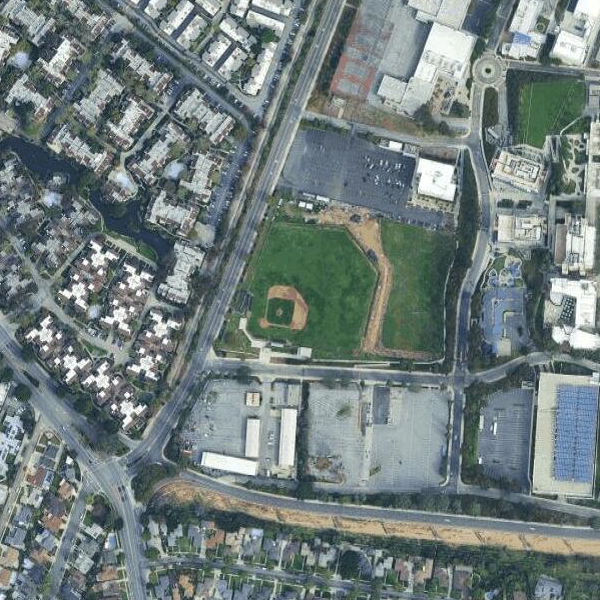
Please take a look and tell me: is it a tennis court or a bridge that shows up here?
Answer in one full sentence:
The image shows a tennis court.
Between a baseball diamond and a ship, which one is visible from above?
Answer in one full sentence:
Visible in the photo is a baseball diamond.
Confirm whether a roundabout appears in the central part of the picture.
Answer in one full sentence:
No, the scene shows no roundabout in the central part of the picture.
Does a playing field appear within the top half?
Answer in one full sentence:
Yes, within the top half there is a playing field.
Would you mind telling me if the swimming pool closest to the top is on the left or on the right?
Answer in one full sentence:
The swimming pool closest to the top appears in the left half of the scene.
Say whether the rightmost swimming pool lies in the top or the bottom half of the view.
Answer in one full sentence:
You can find the rightmost swimming pool in the top half.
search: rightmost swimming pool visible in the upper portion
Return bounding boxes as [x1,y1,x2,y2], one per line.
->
[164,157,184,179]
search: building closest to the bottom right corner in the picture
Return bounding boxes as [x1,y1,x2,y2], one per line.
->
[536,578,562,600]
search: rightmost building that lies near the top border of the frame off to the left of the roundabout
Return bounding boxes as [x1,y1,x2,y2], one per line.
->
[377,0,479,115]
